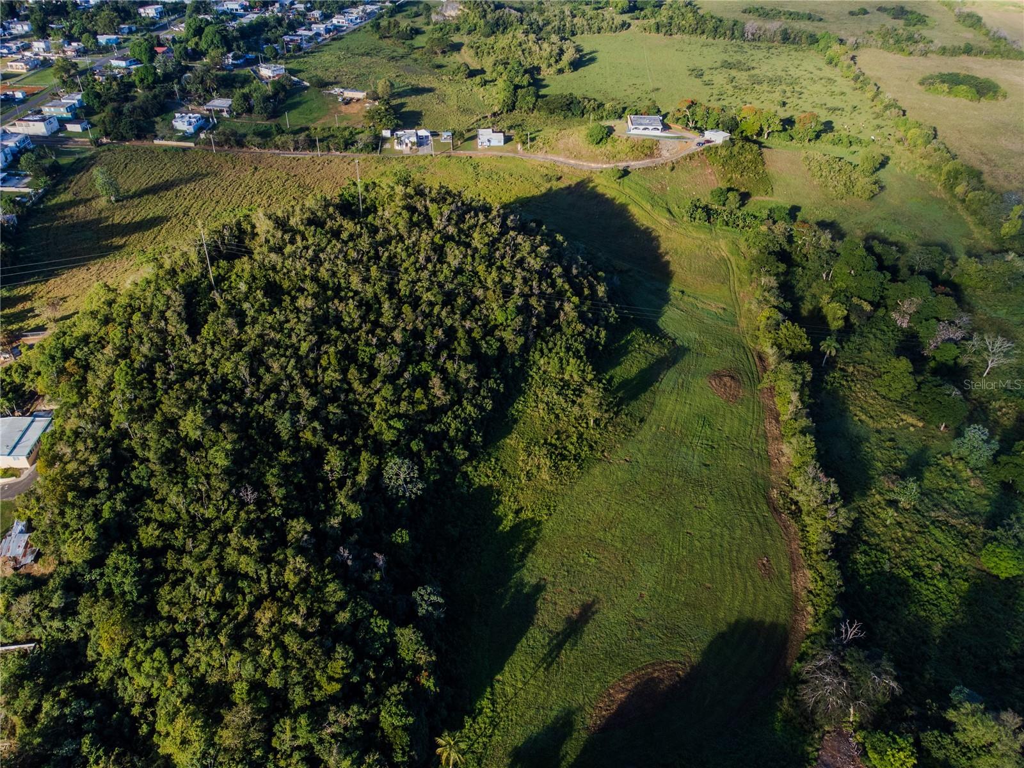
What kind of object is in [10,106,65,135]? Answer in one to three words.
building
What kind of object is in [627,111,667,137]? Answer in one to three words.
house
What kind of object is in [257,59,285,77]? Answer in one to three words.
house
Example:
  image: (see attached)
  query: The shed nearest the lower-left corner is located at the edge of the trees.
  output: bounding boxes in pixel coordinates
[0,516,34,569]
